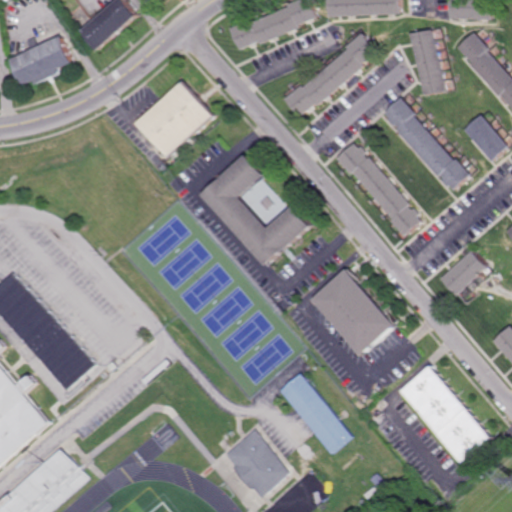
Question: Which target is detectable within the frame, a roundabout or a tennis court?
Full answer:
Of the two, only a tennis court appears.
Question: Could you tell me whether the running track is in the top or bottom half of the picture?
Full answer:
You can find the running track in the bottom half.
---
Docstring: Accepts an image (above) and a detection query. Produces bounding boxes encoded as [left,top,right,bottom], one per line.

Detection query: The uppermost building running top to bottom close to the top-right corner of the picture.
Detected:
[409,29,446,96]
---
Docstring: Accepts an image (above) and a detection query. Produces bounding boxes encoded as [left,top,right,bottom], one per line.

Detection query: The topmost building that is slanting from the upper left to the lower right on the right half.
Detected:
[458,33,512,115]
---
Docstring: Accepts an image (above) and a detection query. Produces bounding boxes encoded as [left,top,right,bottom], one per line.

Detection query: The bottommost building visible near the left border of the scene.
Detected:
[0,448,92,512]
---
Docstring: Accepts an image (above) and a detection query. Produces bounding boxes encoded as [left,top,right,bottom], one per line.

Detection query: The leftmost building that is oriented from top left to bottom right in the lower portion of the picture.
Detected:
[0,274,94,388]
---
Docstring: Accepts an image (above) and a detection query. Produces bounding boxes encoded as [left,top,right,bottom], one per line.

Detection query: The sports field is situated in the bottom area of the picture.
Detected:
[90,482,214,512]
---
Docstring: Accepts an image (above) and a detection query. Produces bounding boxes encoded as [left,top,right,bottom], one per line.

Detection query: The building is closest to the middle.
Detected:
[199,156,306,263]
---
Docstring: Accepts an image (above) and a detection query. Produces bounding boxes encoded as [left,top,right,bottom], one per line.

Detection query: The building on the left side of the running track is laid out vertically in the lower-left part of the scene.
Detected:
[0,340,52,468]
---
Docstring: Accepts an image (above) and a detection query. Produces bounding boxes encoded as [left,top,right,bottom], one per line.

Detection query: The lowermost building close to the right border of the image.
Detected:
[398,366,490,464]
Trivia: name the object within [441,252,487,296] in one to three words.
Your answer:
building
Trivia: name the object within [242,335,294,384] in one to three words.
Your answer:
tennis court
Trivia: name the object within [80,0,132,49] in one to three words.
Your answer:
house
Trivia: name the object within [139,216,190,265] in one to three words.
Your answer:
tennis court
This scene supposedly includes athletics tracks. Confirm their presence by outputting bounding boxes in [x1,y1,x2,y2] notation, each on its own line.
[58,424,239,512]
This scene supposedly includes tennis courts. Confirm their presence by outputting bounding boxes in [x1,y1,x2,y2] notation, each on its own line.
[180,264,232,313]
[221,312,273,360]
[242,335,294,384]
[160,240,212,289]
[200,288,252,337]
[139,216,190,265]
